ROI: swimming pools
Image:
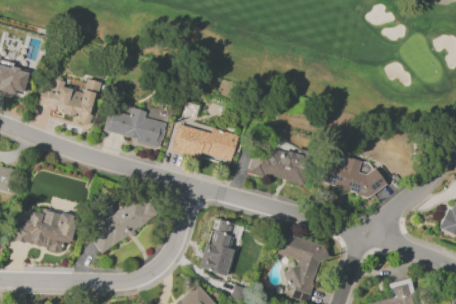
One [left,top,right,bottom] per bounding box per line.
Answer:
[26,38,42,60]
[268,259,282,286]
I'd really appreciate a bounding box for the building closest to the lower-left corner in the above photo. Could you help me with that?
[16,206,75,254]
